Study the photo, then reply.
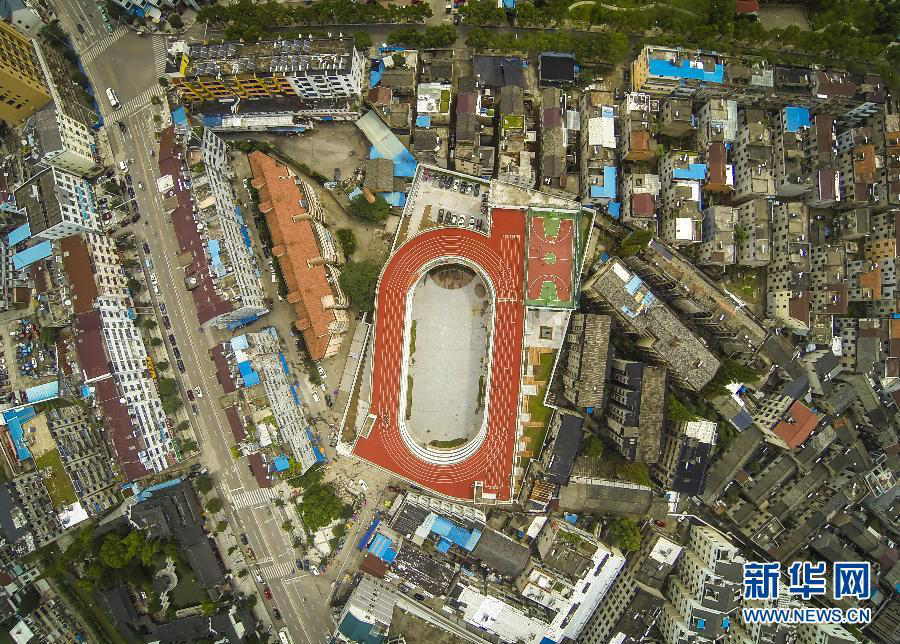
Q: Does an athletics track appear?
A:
Yes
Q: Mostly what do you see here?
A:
buildings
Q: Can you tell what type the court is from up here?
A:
basketball court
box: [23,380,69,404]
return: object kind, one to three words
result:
shed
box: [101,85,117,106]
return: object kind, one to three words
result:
vehicle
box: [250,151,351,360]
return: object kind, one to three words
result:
building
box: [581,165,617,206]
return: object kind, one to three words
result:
house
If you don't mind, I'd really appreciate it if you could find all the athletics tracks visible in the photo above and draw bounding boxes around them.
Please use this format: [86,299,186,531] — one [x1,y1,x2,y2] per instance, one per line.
[354,209,530,500]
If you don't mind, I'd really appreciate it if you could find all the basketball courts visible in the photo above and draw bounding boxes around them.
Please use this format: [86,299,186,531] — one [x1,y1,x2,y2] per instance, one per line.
[525,206,584,309]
